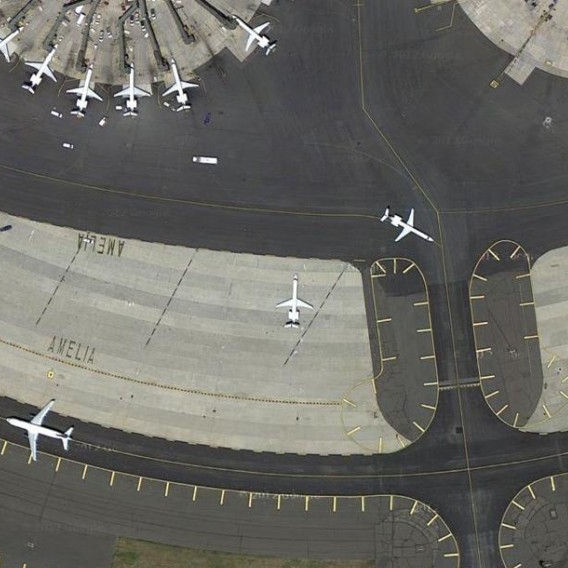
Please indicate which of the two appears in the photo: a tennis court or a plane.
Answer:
plane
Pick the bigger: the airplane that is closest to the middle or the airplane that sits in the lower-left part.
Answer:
the airplane that sits in the lower-left part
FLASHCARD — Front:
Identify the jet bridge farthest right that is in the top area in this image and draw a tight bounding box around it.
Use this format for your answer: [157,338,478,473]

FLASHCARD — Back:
[197,0,237,28]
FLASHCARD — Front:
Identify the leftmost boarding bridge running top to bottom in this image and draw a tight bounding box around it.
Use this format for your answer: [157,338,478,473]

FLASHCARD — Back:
[77,0,100,70]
